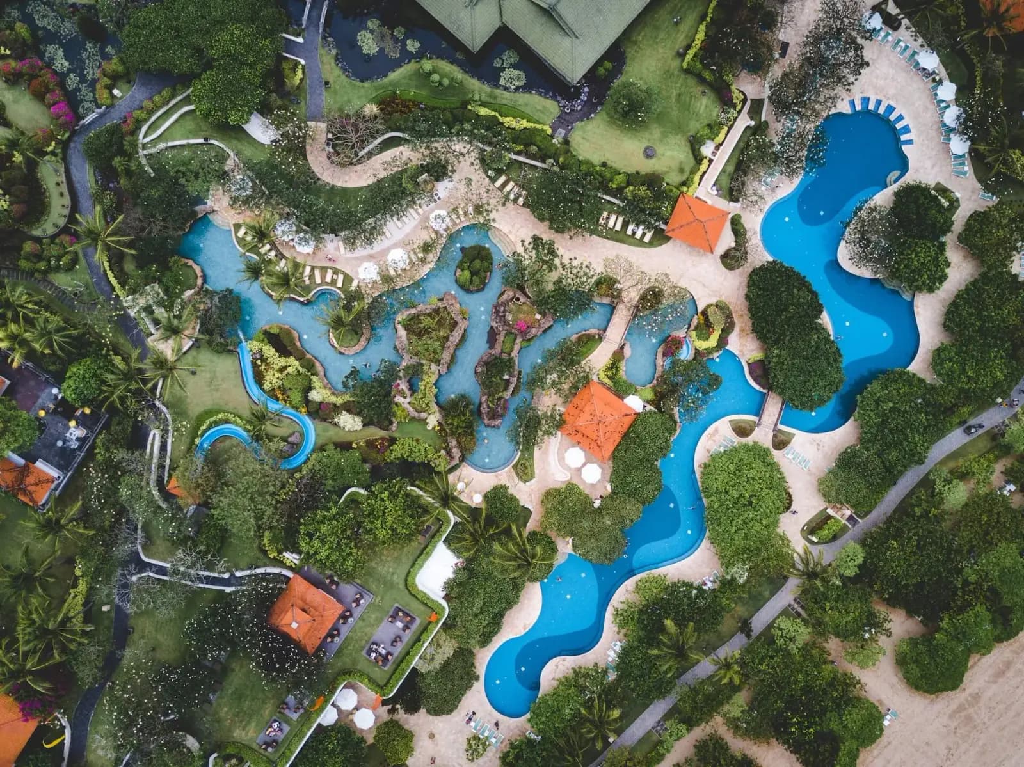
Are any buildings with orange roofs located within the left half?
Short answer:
Yes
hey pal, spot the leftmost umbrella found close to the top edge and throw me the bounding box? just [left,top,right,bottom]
[864,10,883,30]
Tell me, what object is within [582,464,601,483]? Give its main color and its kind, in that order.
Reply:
white umbrella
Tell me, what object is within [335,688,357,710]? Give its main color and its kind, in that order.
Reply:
white umbrella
